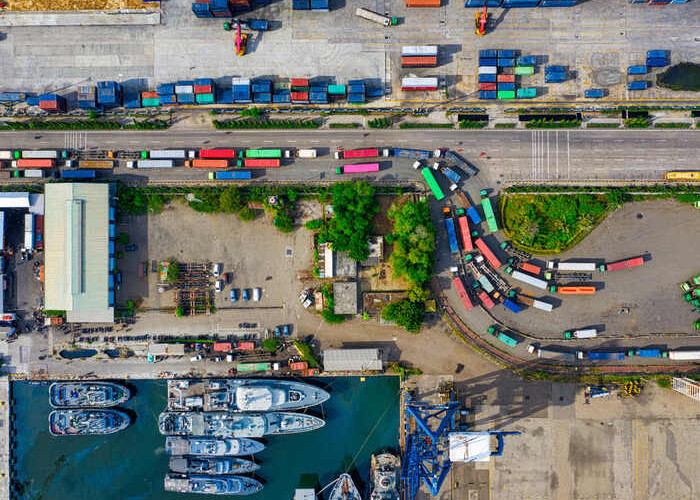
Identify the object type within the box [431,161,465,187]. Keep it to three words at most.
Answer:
truck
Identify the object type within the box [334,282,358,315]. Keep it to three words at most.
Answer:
house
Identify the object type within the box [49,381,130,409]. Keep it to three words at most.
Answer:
boat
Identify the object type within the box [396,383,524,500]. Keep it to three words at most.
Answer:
container crane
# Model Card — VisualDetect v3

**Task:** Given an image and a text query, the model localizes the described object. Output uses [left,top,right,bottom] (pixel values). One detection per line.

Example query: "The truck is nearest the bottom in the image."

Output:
[582,386,613,407]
